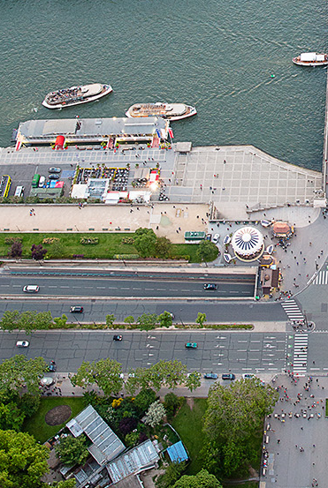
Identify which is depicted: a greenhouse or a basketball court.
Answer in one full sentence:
Visible in the photo is a greenhouse.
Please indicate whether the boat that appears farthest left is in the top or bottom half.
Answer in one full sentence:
You can find the boat that appears farthest left in the top half.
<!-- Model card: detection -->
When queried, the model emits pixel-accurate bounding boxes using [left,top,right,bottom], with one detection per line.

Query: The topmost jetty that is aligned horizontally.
[19,126,170,141]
